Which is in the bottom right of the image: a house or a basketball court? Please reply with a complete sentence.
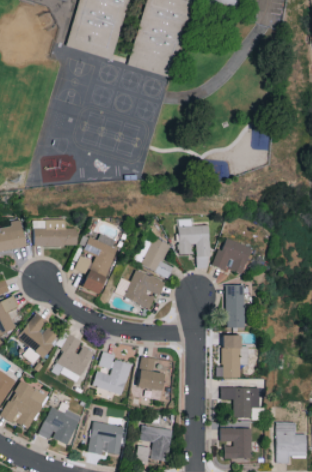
Looking in the bottom right of the image, you will find a house.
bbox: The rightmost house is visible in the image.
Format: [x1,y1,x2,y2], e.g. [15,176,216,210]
[274,422,307,460]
